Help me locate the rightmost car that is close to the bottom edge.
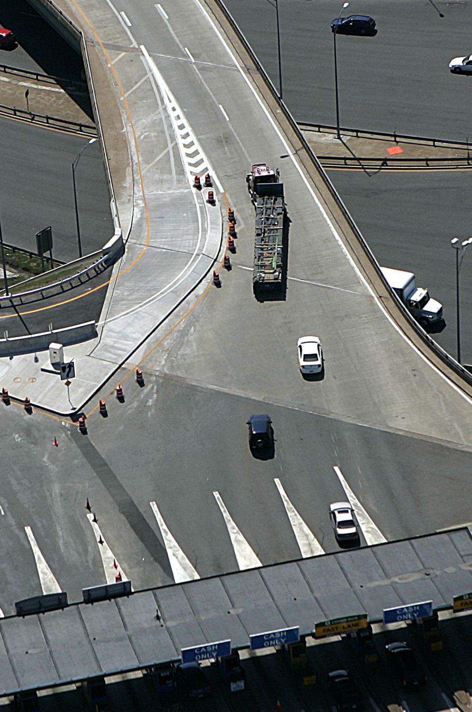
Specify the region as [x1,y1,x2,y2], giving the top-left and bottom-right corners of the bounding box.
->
[378,636,424,686]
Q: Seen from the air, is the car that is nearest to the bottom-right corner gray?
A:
No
